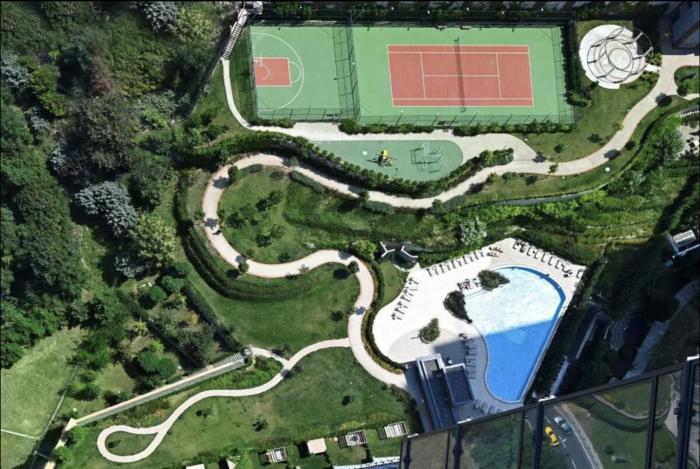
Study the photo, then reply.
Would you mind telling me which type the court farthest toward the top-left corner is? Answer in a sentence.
The court farthest toward the top-left corner appears to be a basketball court.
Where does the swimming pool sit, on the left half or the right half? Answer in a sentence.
You can find the swimming pool on the right side of the picture.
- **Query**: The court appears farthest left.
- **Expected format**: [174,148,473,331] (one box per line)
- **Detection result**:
[252,25,355,120]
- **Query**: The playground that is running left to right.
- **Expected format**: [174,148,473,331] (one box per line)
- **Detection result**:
[308,139,463,186]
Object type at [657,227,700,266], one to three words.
building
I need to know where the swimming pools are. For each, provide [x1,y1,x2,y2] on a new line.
[462,263,567,406]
